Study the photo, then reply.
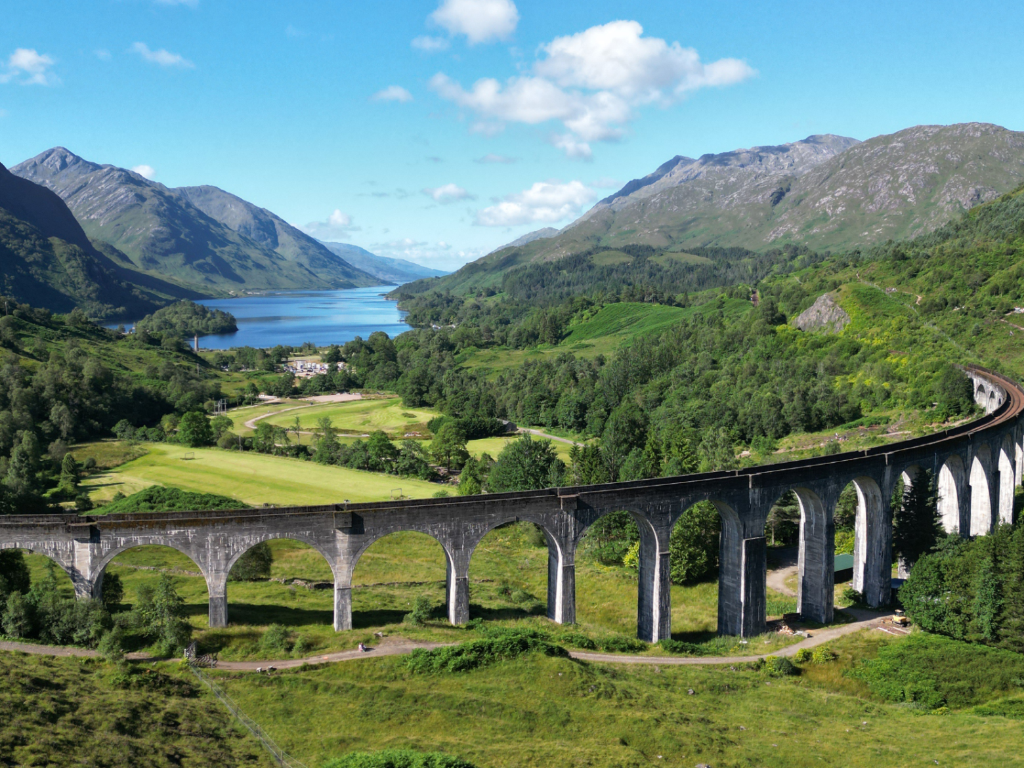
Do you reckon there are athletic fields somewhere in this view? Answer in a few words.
Yes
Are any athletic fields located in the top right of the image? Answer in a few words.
No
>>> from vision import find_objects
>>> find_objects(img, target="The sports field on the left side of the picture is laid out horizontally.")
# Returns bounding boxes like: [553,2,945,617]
[89,442,459,504]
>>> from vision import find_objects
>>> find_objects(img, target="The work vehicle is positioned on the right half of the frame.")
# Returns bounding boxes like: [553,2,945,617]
[891,613,914,631]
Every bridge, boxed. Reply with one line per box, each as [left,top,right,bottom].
[0,360,1024,643]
